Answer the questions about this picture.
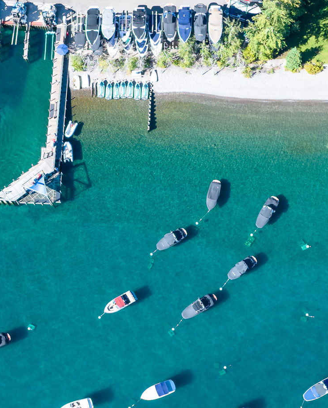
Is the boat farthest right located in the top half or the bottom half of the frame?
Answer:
bottom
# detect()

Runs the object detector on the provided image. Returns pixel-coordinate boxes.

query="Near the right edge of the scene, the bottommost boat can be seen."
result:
[303,379,328,401]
